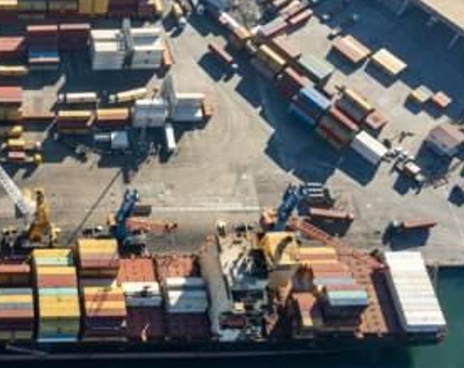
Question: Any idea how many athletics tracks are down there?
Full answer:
Not a single athletics track can be seen.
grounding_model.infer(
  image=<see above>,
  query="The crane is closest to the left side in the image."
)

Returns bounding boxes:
[0,155,67,265]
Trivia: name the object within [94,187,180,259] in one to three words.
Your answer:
crane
